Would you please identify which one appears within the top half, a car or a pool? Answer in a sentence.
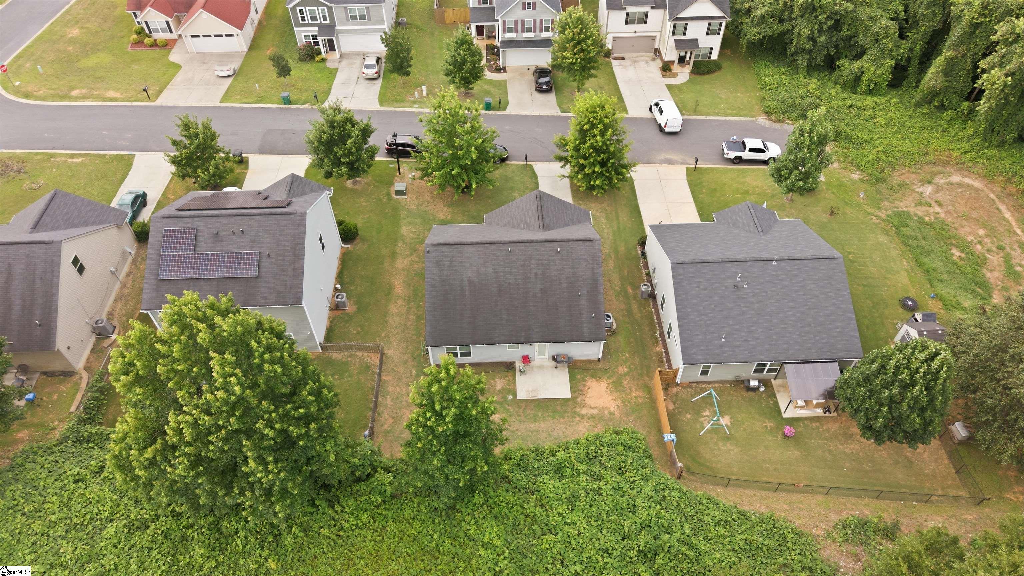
What appears within the top half is a car.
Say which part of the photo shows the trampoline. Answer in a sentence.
The trampoline is in the right part of the image.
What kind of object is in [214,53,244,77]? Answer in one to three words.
car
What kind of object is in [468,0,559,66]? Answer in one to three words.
house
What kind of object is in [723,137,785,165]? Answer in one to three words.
truck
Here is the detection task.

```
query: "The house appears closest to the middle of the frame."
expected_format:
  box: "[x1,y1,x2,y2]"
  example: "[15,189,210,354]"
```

[423,190,608,364]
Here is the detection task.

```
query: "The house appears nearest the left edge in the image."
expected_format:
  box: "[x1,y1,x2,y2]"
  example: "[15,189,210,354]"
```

[0,188,131,373]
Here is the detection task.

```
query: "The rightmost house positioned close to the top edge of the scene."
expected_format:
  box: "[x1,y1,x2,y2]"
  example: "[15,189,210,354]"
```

[596,0,733,73]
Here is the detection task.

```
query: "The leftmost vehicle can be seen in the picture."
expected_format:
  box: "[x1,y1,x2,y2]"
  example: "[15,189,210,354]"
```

[114,186,151,224]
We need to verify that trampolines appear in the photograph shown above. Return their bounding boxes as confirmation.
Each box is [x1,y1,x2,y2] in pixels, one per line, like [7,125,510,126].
[900,291,921,311]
